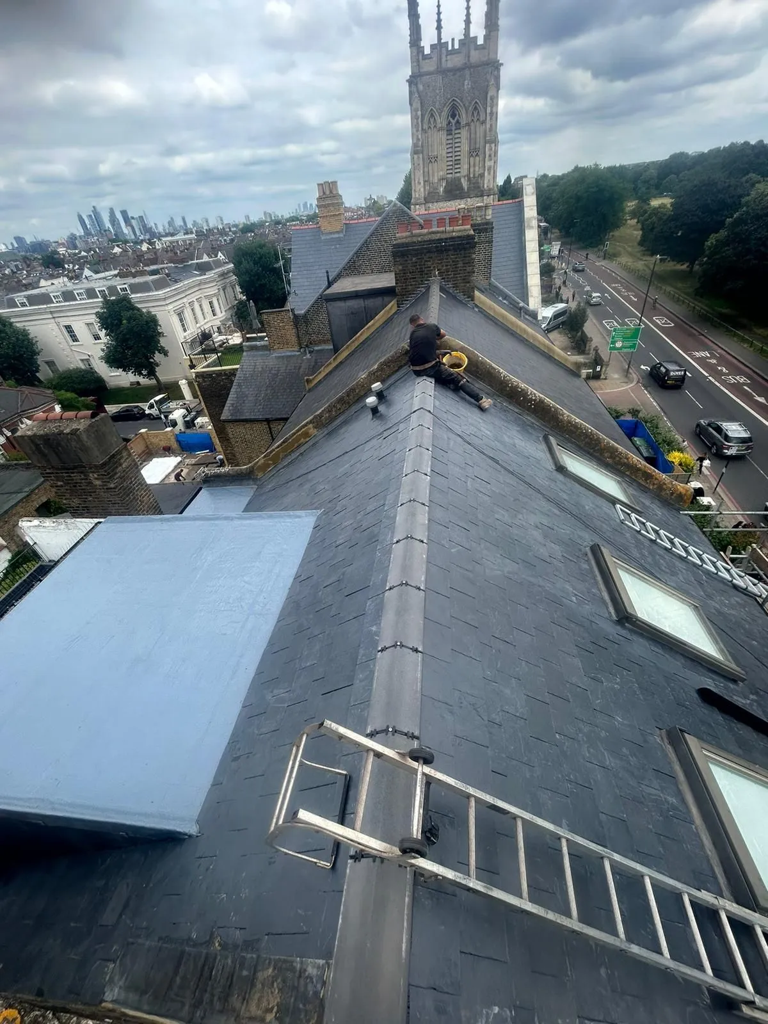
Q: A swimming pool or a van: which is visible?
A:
van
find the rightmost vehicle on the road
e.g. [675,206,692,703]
[697,413,759,453]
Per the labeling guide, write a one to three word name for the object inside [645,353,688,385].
van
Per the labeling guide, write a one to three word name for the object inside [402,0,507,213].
building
